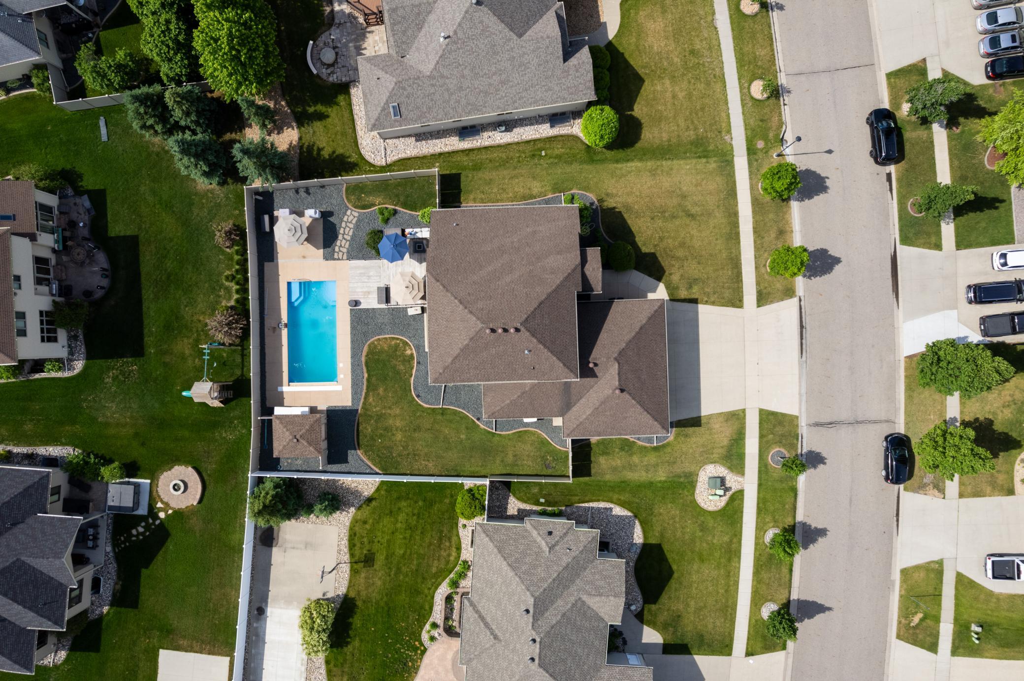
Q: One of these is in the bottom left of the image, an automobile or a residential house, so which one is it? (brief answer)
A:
residential house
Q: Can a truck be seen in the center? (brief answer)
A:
No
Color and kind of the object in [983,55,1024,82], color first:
black car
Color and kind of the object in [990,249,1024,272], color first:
white car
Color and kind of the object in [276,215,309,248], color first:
white umbrella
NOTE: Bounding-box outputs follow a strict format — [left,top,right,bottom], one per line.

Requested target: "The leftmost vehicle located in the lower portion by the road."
[882,434,912,486]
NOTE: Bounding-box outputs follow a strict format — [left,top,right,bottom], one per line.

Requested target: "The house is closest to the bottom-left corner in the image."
[0,465,107,681]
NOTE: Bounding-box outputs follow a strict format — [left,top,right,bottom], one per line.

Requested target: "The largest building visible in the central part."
[424,204,670,439]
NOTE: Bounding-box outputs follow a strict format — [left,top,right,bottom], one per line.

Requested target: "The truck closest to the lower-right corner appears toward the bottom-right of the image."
[983,552,1024,580]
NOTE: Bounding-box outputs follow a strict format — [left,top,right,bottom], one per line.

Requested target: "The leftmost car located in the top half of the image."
[865,106,901,167]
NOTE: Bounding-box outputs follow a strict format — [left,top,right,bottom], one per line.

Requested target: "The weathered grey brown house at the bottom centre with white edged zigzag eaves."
[459,511,653,681]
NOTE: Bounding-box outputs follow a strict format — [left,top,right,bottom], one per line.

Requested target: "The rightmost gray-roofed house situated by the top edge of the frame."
[357,0,597,140]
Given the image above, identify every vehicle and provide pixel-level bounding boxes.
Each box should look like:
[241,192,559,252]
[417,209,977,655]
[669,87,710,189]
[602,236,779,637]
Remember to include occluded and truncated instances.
[964,279,1024,307]
[977,316,1024,341]
[983,552,1024,580]
[983,55,1024,82]
[976,3,1024,35]
[865,106,901,167]
[990,249,1024,272]
[970,0,1024,10]
[882,434,912,486]
[977,26,1024,59]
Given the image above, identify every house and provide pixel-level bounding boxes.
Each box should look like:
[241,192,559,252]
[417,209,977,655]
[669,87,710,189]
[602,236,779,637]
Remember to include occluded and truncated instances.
[0,465,107,681]
[0,0,93,78]
[0,180,69,365]
[357,0,597,140]
[424,204,670,439]
[459,511,653,681]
